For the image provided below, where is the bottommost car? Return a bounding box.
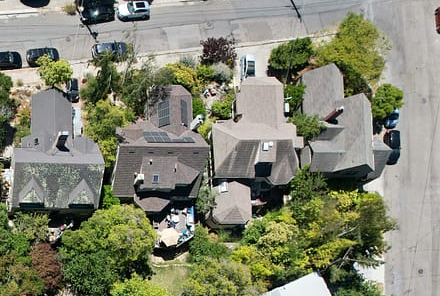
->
[379,128,401,164]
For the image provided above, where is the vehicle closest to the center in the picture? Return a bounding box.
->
[238,52,257,85]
